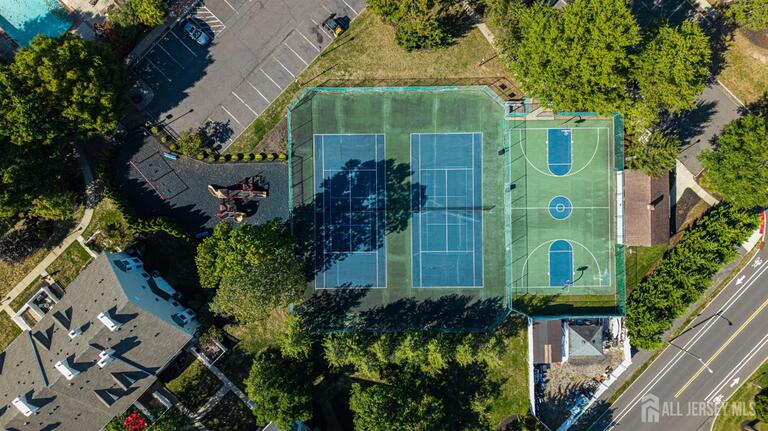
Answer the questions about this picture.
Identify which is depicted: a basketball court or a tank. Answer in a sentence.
The one in the frame is a basketball court.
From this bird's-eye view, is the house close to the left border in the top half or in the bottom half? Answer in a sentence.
It is in the bottom half that the house close to the left border appears.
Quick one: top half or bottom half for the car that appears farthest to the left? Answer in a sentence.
The car that appears farthest to the left sits in the top half of the picture.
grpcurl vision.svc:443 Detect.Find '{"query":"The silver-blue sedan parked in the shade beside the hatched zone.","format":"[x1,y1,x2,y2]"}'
[179,20,210,46]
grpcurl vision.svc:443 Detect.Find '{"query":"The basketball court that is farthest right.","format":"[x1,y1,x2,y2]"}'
[511,127,609,287]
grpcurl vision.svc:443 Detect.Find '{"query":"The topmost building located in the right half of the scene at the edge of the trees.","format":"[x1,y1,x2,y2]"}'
[619,169,670,246]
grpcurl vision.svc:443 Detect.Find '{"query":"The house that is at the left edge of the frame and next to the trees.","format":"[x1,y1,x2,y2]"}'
[0,251,210,431]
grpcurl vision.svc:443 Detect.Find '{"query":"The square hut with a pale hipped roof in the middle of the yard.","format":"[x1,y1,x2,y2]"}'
[568,324,602,364]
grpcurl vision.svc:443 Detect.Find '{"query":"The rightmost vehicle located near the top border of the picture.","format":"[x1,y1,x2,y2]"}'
[320,12,344,35]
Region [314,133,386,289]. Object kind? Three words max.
tennis court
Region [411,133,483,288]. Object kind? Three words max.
tennis court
